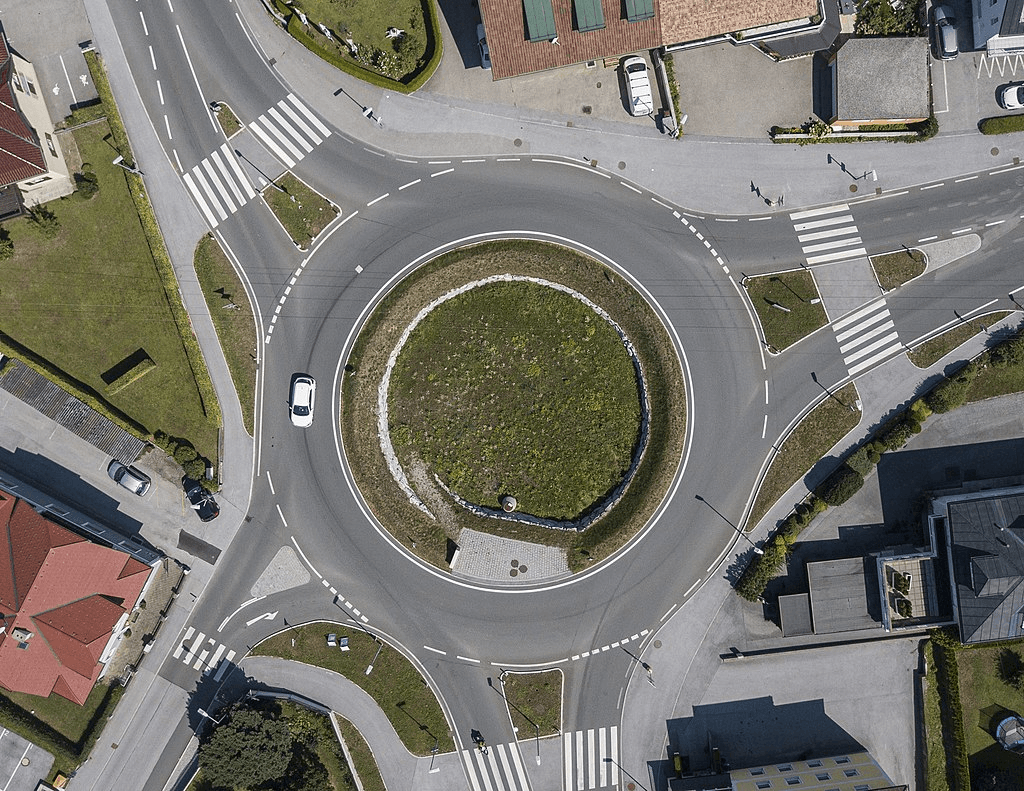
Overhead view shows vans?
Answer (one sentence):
Yes, I can see a van in this picture.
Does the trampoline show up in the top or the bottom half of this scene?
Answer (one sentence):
The trampoline is in the bottom half of the image.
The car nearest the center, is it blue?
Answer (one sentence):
No, the car nearest the center is white.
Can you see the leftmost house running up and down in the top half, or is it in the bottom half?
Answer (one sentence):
You can find the leftmost house running up and down in the top half.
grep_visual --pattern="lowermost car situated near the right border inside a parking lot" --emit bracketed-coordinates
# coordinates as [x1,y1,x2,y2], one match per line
[999,84,1024,113]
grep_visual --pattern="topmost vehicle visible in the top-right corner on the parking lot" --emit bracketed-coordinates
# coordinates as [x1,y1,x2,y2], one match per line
[932,6,963,60]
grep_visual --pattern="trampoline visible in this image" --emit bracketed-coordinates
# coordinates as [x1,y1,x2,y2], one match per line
[993,714,1024,762]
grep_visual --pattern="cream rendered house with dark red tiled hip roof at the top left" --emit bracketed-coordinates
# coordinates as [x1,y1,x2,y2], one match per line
[0,29,74,206]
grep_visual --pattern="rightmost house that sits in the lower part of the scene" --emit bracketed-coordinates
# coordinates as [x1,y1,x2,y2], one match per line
[868,485,1024,646]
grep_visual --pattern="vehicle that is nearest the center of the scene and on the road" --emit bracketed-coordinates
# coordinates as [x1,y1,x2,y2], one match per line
[288,375,317,426]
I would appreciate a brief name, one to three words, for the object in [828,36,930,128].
building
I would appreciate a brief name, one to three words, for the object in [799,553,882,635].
building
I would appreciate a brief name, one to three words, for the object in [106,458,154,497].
car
